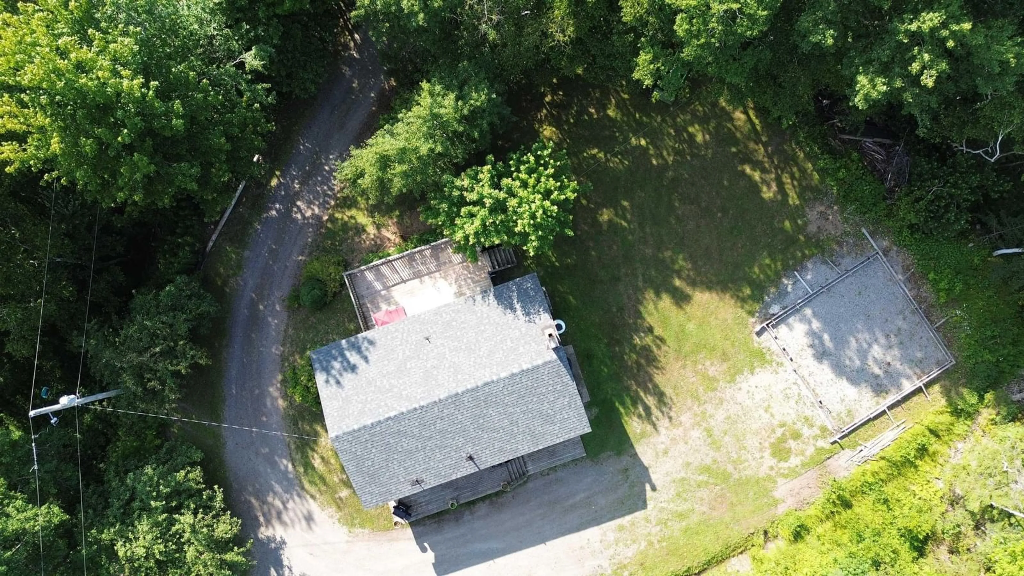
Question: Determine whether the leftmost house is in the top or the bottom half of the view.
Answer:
bottom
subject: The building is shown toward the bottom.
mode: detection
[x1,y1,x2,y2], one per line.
[309,272,591,509]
